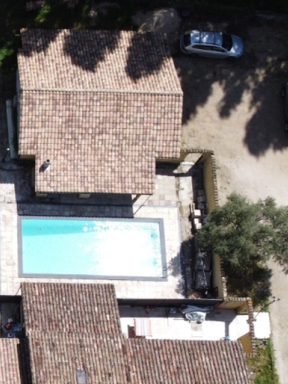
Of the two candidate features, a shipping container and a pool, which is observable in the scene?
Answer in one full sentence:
There is a pool in the scene.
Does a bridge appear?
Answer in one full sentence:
No, no bridge is visible in the scene.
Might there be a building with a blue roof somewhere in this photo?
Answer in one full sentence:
No, there appears to be no building with a blue roof in this shot.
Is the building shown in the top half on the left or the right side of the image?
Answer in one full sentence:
You can find the building shown in the top half on the left side of the picture.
